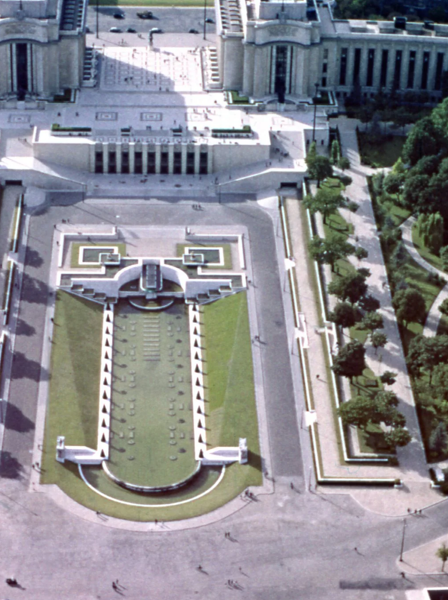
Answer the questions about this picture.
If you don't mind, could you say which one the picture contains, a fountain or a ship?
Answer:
fountain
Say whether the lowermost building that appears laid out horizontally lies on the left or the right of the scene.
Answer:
left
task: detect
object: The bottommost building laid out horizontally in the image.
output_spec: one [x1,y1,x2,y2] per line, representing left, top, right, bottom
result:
[31,125,271,195]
